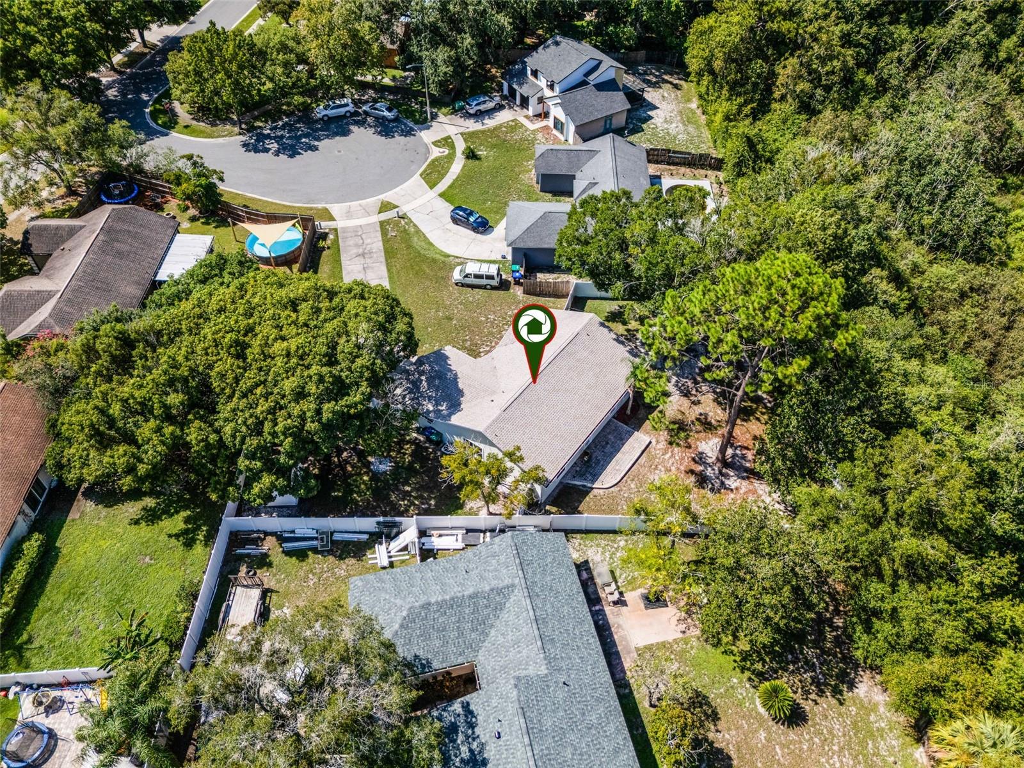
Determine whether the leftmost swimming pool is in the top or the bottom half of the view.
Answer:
top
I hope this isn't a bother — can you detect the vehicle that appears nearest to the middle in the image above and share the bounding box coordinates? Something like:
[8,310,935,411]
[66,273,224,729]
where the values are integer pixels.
[450,261,504,291]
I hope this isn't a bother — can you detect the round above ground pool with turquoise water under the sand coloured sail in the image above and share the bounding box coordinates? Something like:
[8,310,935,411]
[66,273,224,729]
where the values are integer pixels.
[244,224,306,272]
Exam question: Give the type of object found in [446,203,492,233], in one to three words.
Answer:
car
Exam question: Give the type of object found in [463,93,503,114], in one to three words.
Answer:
car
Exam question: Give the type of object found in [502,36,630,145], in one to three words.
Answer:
house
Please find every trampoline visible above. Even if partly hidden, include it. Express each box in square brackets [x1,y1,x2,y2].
[92,168,142,205]
[0,709,57,768]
